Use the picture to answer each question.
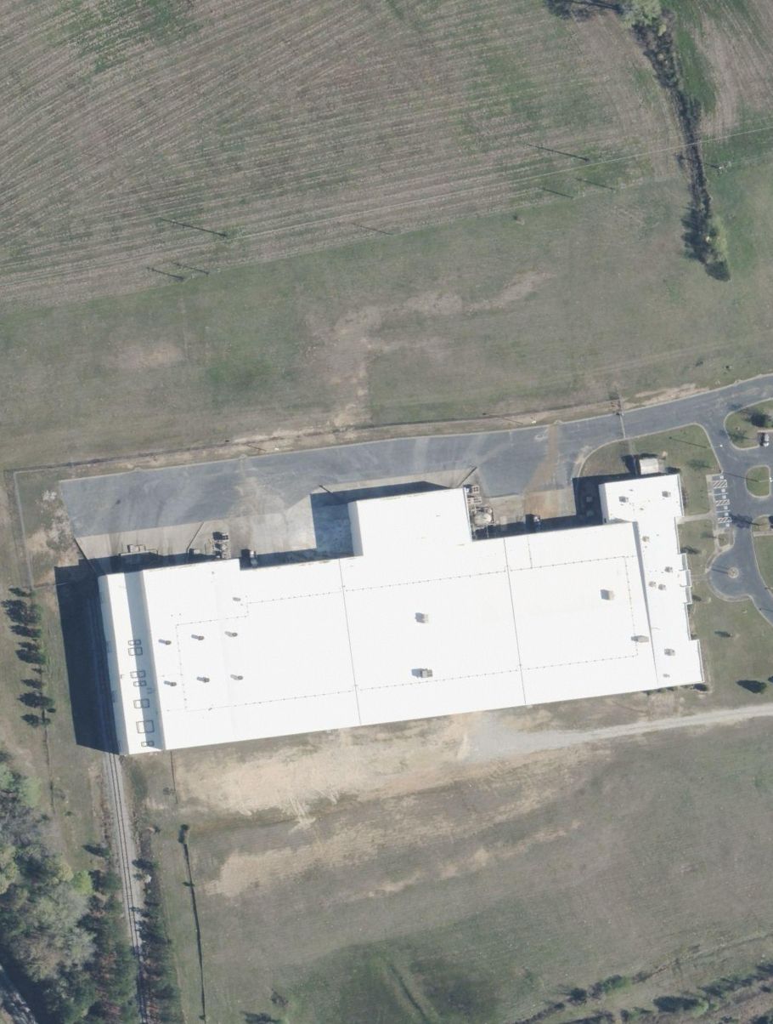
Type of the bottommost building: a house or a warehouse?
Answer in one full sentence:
From above, the bottommost building can be identified as a warehouse.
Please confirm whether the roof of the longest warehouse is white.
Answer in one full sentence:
Yes, white is the color of the roof of the longest warehouse.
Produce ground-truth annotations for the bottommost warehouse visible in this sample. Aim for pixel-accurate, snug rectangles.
[98,474,704,755]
